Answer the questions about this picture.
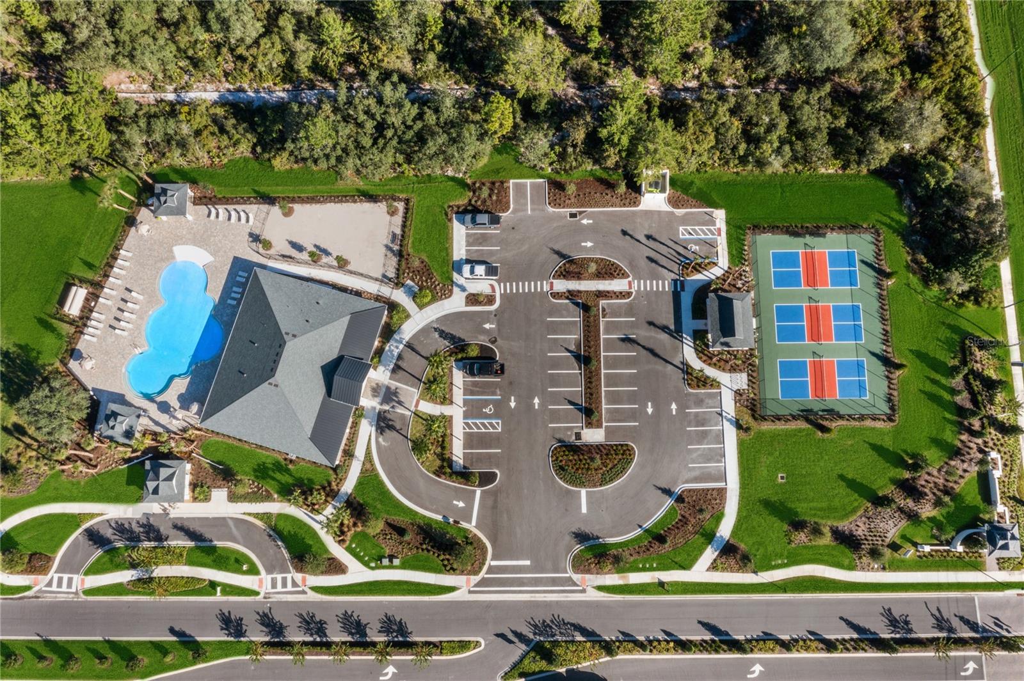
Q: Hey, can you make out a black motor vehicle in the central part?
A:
Yes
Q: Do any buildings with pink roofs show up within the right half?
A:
No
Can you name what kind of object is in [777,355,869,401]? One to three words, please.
sports court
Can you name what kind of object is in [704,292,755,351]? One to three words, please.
building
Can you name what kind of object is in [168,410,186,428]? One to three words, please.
umbrella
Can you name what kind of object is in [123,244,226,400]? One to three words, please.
swimming pool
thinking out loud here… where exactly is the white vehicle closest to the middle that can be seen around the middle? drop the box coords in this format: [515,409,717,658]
[462,263,501,279]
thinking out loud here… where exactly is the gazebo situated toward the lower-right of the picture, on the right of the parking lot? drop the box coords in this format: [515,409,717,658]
[973,523,1023,557]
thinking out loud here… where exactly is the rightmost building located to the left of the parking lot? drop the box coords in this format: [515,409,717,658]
[197,267,389,467]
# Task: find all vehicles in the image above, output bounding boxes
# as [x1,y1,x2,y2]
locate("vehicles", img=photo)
[463,212,502,228]
[463,360,503,376]
[462,263,501,279]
